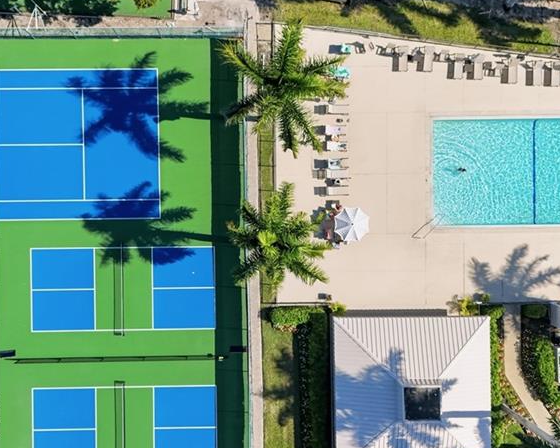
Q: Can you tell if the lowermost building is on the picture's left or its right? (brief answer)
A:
right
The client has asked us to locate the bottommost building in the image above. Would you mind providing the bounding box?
[331,315,493,448]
